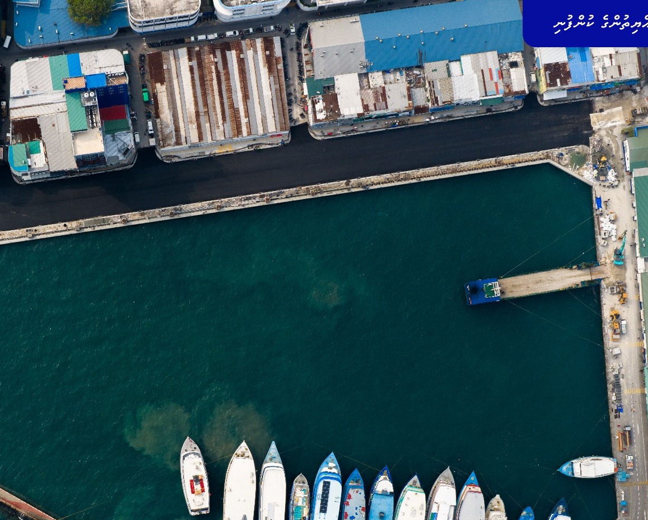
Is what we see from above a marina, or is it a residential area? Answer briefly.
marina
